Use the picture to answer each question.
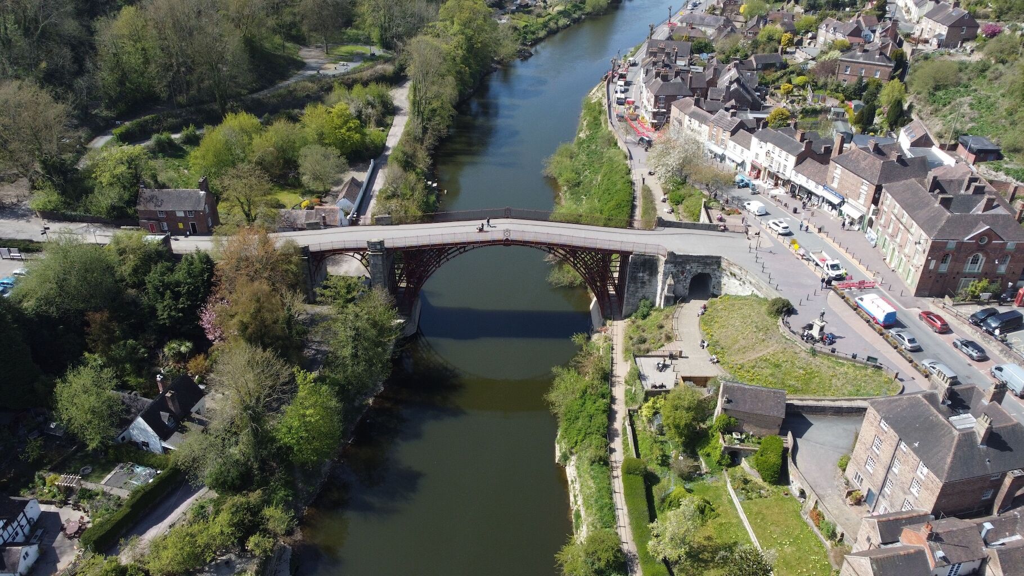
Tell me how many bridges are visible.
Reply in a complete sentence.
There is 1 bridge in the image.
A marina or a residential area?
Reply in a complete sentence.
The area seen from above is a residential area.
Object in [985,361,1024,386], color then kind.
white vehicle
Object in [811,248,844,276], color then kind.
white truck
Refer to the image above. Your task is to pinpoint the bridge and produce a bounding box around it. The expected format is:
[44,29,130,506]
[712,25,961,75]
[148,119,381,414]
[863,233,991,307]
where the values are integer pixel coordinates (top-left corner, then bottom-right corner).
[296,208,732,337]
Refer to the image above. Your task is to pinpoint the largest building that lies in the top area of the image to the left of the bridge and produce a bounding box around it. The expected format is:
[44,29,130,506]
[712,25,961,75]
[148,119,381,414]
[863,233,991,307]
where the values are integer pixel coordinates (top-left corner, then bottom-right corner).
[137,177,227,237]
